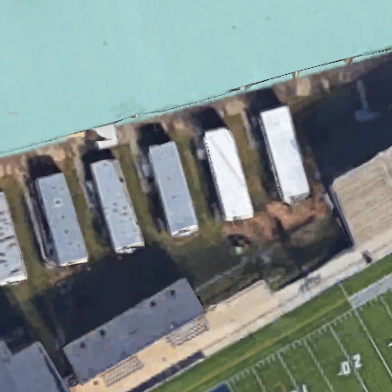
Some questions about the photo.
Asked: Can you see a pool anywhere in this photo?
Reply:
No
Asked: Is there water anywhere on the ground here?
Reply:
No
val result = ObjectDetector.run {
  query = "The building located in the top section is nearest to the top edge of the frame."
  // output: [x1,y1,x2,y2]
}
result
[0,0,392,160]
